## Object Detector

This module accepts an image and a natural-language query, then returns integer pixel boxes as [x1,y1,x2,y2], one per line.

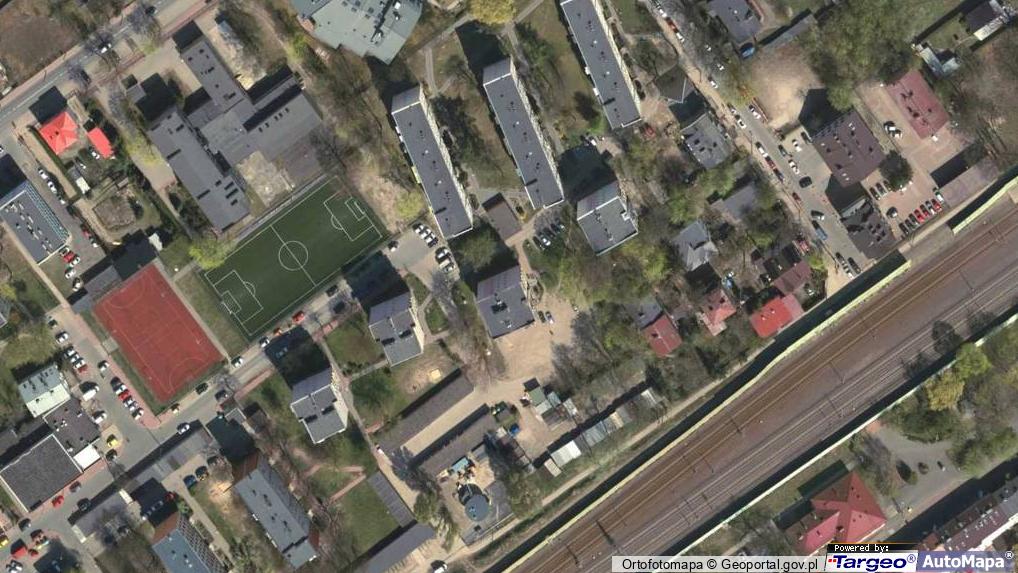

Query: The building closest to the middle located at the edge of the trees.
[478,270,534,338]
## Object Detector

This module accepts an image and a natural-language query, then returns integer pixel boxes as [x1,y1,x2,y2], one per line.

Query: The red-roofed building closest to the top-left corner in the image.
[40,108,80,154]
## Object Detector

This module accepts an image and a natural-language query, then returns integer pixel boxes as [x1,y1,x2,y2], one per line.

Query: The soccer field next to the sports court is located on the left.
[200,172,389,343]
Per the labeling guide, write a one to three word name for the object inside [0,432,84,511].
building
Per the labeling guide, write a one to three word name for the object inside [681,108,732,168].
house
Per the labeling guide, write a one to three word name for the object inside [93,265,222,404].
sports court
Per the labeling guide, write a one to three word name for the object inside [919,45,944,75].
shed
